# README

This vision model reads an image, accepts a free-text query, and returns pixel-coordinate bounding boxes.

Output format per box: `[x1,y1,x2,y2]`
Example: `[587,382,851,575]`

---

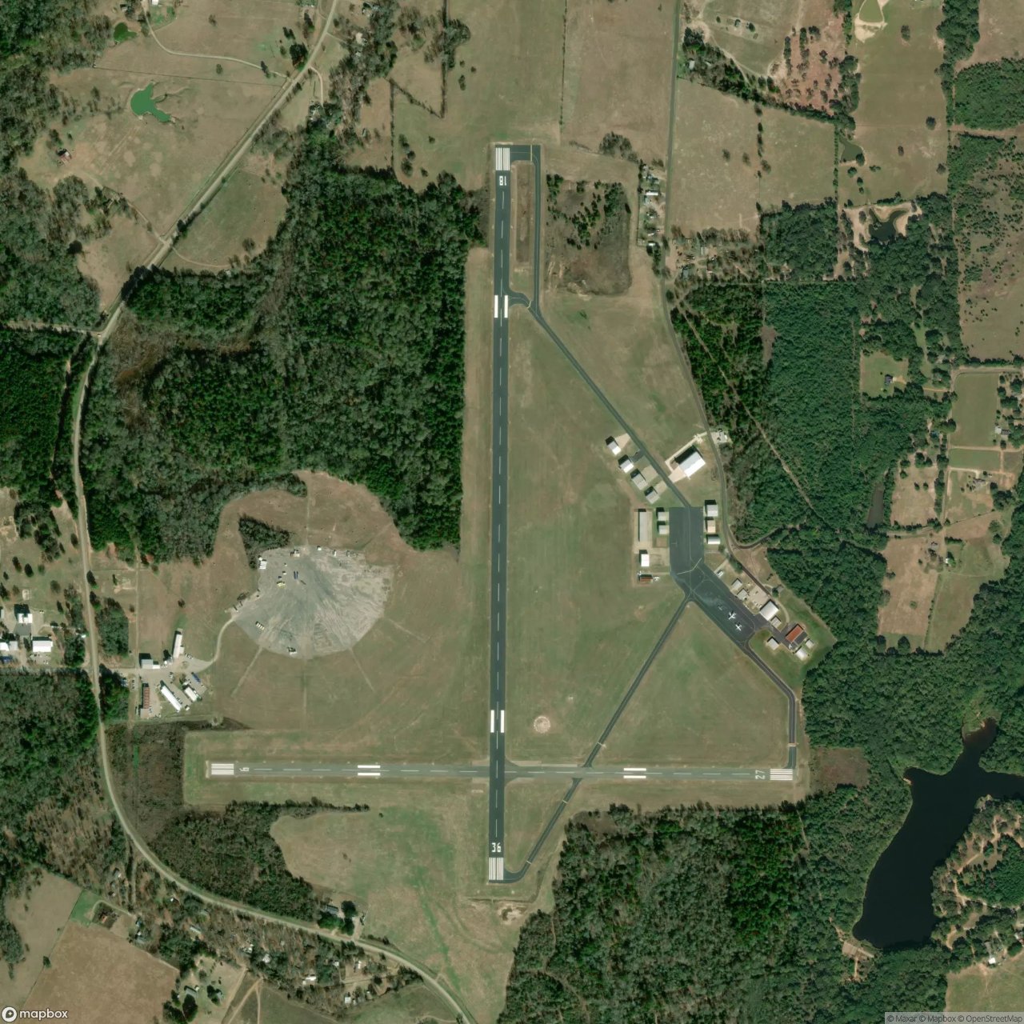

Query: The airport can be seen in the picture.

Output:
[210,145,809,883]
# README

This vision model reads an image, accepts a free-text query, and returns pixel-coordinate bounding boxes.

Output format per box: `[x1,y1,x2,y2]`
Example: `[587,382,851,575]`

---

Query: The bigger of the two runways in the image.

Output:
[489,145,510,882]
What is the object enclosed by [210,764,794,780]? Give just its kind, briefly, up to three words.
runway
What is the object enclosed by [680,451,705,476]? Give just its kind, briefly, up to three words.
hangar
